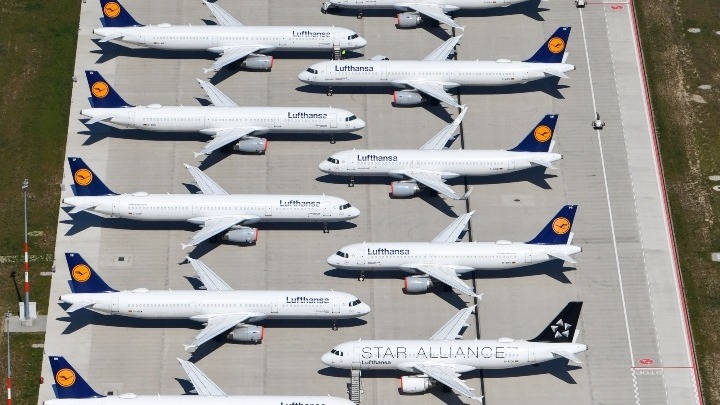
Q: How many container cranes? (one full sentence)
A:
I count no container cranes.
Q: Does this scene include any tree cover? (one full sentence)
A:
No, the scene doesn't show any tree cover.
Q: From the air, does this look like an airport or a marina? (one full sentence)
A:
This image shows an airport.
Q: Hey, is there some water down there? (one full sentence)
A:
No, the scene doesn't show any water.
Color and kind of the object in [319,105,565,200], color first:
white airplane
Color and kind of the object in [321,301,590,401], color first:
white airplane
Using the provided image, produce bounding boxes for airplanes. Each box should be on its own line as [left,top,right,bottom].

[61,158,359,249]
[321,301,590,401]
[79,71,365,157]
[92,0,366,75]
[319,105,565,200]
[326,206,584,300]
[59,253,370,350]
[298,27,577,110]
[44,356,358,405]
[329,0,518,29]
